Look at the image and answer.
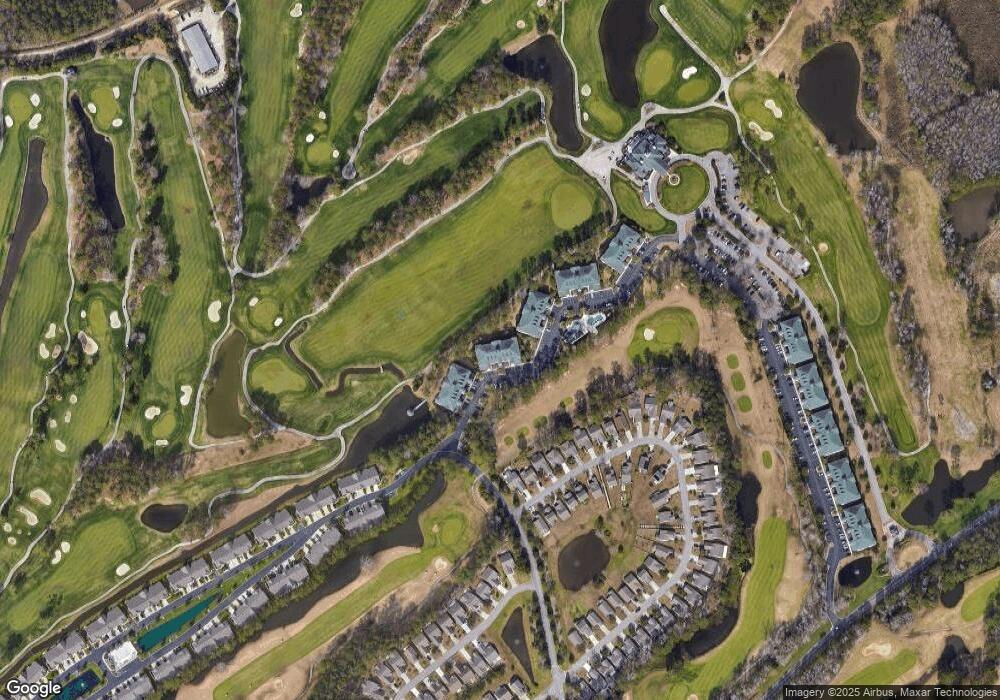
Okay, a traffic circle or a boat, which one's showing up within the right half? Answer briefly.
traffic circle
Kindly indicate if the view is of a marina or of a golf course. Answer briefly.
golf course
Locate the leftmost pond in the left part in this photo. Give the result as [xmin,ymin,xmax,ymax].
[0,137,48,304]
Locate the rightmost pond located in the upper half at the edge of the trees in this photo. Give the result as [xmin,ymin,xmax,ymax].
[949,186,1000,239]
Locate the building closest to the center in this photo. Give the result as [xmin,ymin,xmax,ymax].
[476,338,521,370]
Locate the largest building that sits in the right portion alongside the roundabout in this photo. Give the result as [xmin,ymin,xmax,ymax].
[620,130,672,185]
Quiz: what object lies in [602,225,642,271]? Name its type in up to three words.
building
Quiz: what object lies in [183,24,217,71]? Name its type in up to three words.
shed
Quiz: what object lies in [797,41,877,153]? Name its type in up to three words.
pond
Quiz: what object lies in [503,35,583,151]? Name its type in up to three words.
pond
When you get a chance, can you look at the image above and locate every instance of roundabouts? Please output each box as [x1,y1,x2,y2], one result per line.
[653,155,717,219]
